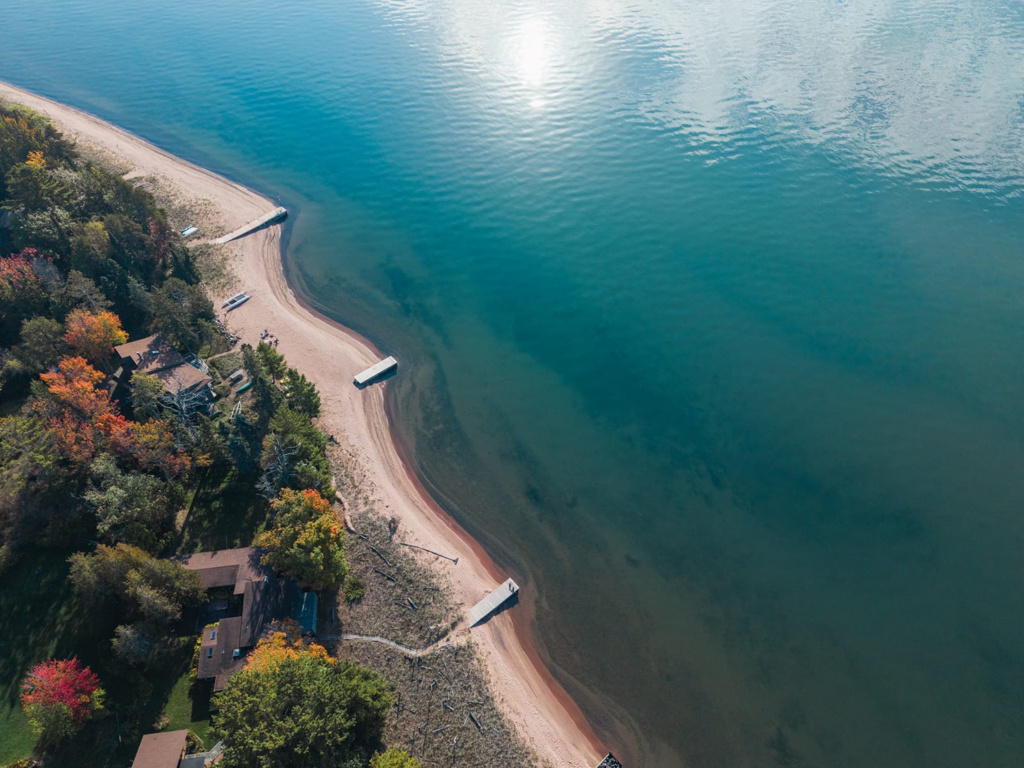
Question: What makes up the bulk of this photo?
water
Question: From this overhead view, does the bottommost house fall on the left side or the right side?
left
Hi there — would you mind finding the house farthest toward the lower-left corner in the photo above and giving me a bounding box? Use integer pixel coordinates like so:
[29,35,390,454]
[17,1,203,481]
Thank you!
[131,729,206,768]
